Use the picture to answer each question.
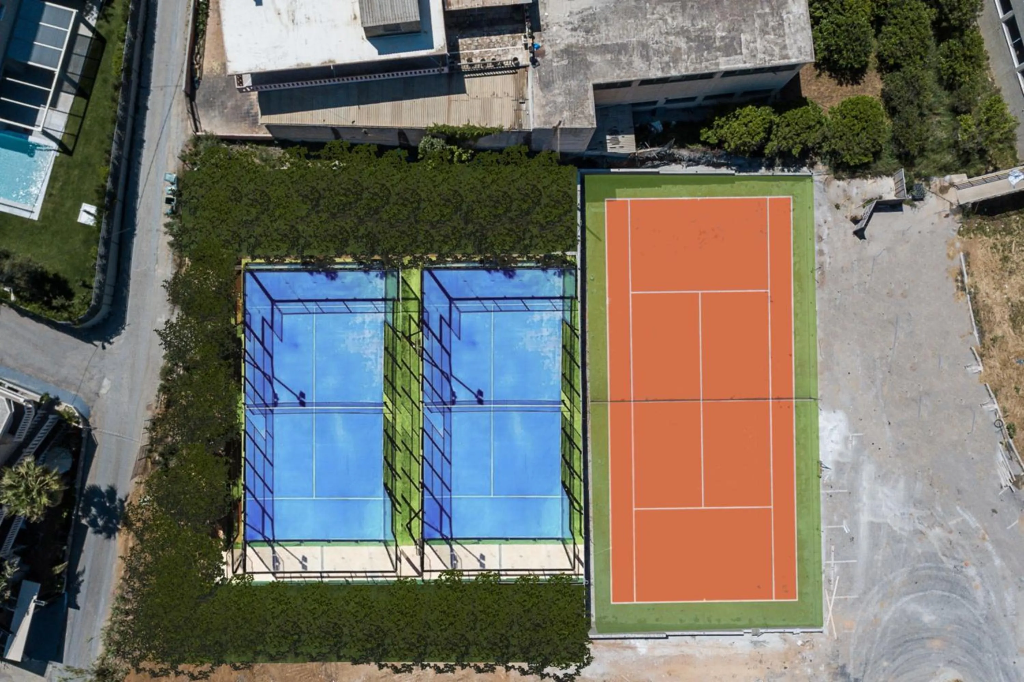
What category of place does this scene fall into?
sports ground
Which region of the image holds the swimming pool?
top left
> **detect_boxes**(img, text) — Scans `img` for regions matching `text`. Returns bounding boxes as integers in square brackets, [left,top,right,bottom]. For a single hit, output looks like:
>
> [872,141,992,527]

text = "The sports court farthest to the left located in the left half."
[246,270,398,547]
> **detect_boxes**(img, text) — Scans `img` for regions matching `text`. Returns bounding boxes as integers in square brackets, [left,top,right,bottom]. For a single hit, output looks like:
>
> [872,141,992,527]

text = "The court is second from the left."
[425,269,574,545]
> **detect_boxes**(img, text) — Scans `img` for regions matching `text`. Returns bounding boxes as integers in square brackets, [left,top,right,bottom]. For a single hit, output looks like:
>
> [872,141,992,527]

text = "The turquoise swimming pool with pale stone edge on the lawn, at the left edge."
[0,130,58,220]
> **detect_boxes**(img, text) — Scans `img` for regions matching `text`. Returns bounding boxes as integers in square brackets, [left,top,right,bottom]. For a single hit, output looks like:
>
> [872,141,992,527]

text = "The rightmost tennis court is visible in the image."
[582,172,825,636]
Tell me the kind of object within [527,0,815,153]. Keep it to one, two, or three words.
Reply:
building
